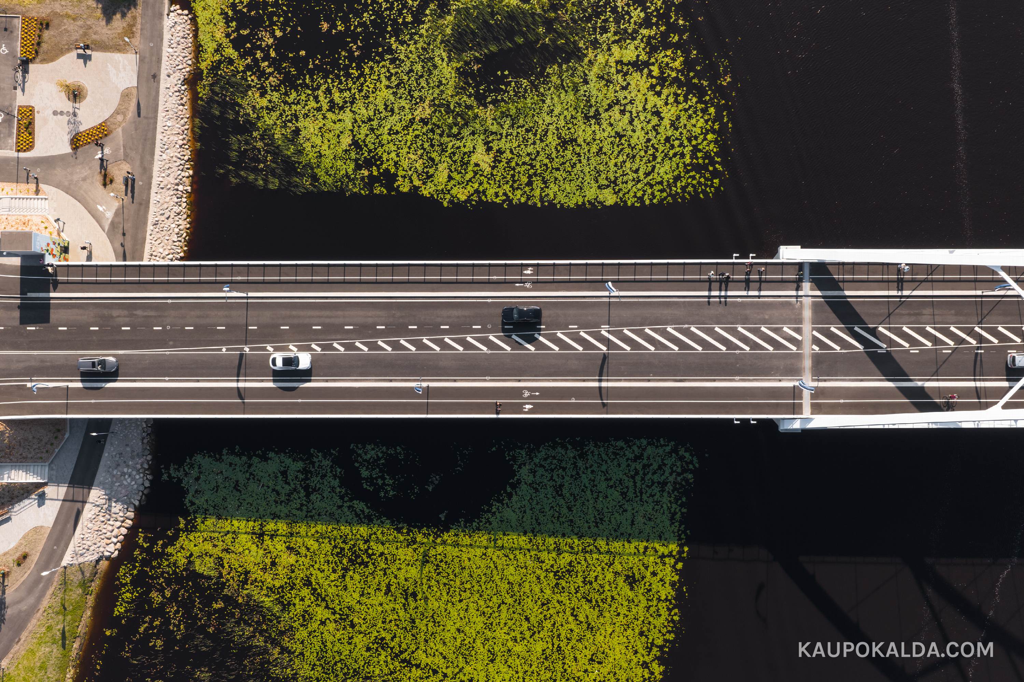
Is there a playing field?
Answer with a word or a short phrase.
No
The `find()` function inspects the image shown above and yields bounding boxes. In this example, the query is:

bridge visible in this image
[0,246,1024,433]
